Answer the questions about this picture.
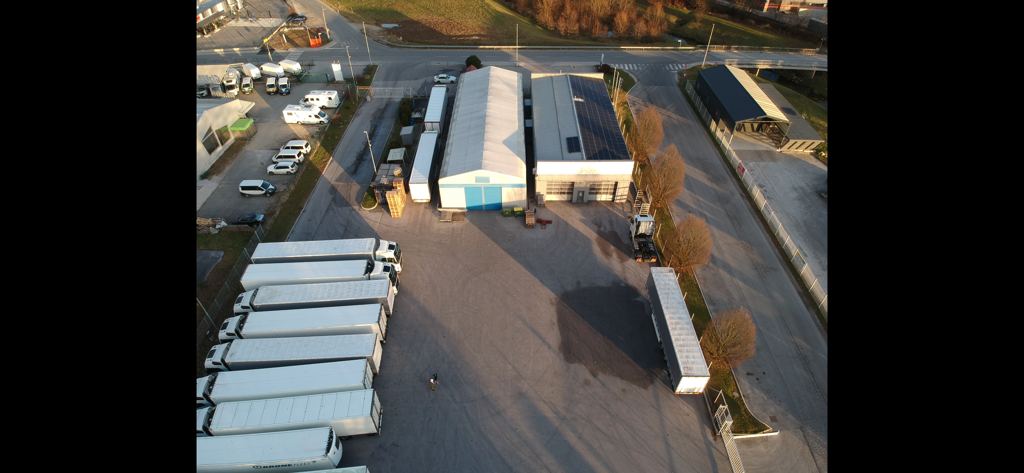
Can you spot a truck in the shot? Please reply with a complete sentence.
Yes, the image includes a truck.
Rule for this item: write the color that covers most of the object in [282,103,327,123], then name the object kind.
white camper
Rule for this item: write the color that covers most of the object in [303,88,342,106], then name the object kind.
white camper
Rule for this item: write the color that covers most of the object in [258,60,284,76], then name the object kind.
white vehicle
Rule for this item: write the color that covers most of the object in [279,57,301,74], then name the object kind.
white vehicle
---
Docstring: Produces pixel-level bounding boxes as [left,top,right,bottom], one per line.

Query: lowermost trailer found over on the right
[646,269,710,396]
